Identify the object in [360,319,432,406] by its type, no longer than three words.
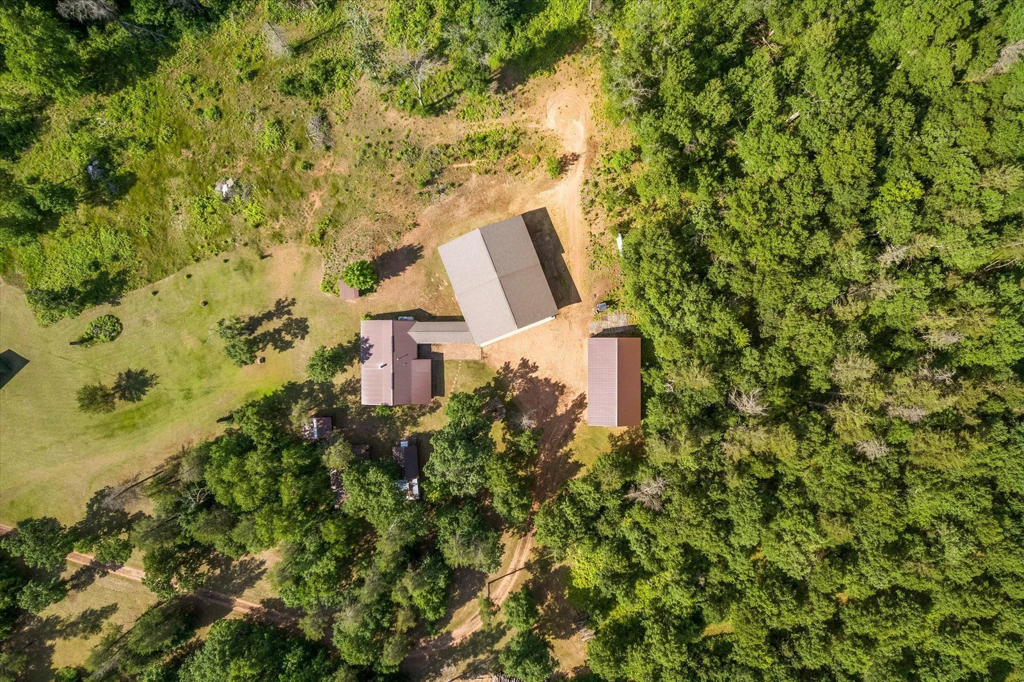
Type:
house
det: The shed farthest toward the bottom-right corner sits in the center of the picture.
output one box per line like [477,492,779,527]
[587,337,641,427]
